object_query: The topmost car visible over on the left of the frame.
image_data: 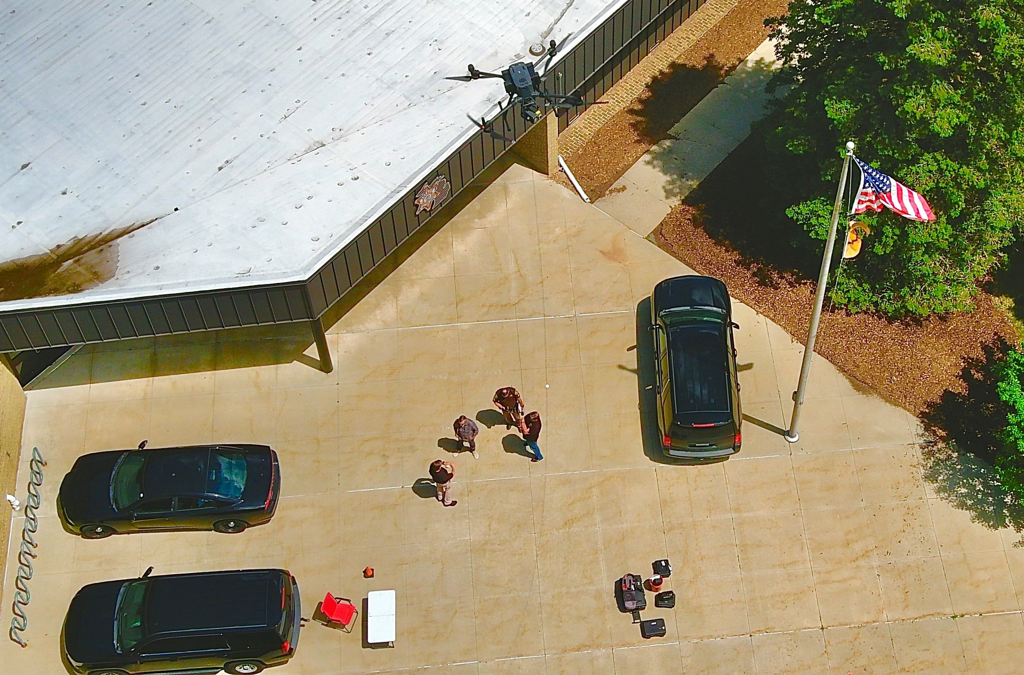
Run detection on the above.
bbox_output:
[58,435,280,538]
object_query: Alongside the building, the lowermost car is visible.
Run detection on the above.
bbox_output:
[62,561,318,675]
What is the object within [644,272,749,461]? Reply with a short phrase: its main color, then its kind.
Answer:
black car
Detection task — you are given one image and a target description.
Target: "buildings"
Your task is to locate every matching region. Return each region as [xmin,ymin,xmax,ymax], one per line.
[0,0,717,615]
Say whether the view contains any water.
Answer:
No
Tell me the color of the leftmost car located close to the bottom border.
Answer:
black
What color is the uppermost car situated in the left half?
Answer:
black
